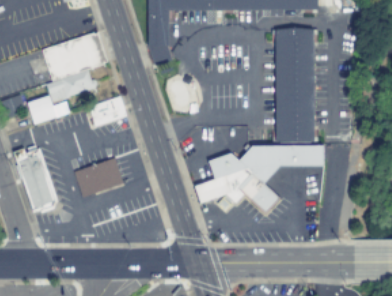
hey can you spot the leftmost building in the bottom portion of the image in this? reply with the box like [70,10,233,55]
[14,147,58,212]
